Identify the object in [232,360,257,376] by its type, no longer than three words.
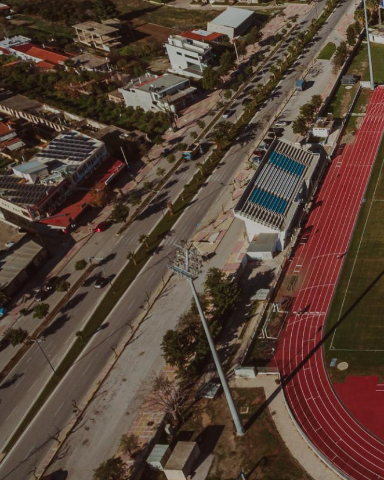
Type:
shed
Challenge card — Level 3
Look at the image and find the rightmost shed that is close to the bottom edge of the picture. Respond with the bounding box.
[162,441,200,480]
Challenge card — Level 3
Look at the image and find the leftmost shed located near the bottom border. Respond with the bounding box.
[143,444,171,472]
